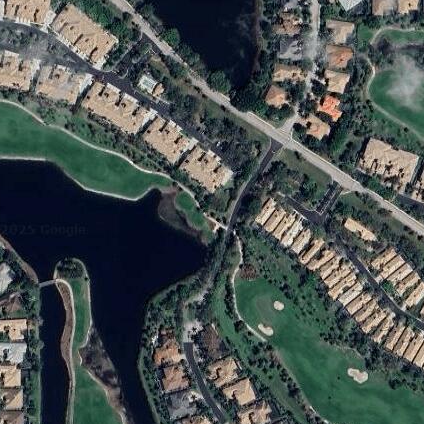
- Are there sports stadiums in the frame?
No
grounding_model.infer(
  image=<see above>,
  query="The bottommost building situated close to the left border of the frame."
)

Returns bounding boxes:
[1,408,27,424]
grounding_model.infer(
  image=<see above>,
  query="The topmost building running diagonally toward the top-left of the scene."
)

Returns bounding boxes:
[52,5,116,64]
